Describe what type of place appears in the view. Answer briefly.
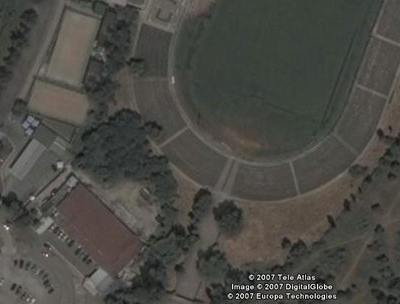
sports ground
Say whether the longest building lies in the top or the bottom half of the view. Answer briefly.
bottom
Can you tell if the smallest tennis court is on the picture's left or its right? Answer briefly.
left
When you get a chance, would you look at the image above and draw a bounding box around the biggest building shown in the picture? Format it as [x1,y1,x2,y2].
[58,184,143,277]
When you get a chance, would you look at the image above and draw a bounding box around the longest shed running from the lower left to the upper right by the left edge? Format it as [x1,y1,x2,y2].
[9,138,47,179]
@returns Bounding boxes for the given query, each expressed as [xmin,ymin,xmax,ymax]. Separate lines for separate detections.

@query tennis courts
[47,9,98,87]
[27,80,88,125]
